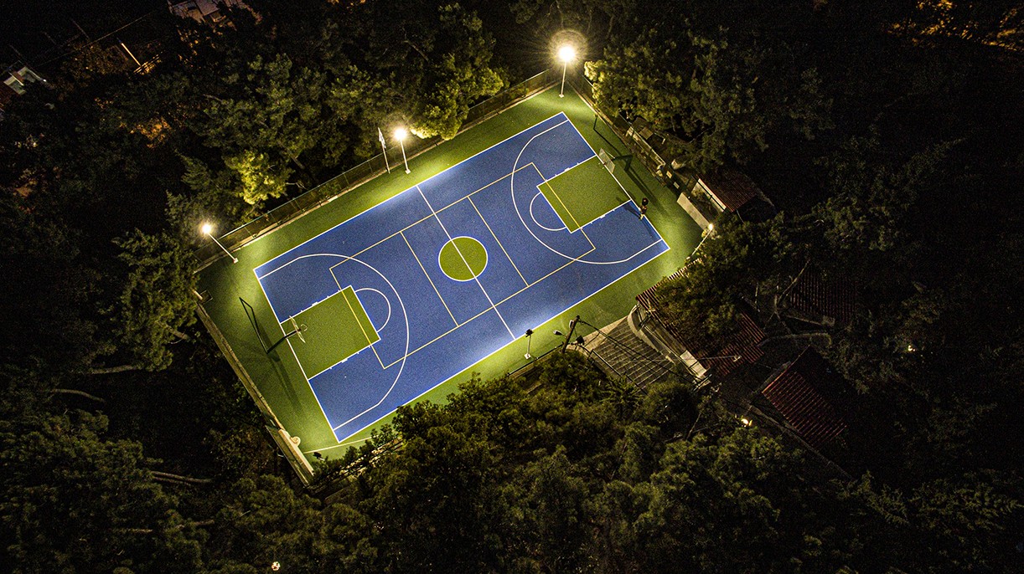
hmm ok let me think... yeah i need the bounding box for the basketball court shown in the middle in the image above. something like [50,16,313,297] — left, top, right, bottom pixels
[194,82,707,489]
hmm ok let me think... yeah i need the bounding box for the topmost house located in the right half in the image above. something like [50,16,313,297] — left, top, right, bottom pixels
[688,148,780,222]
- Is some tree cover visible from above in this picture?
Yes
